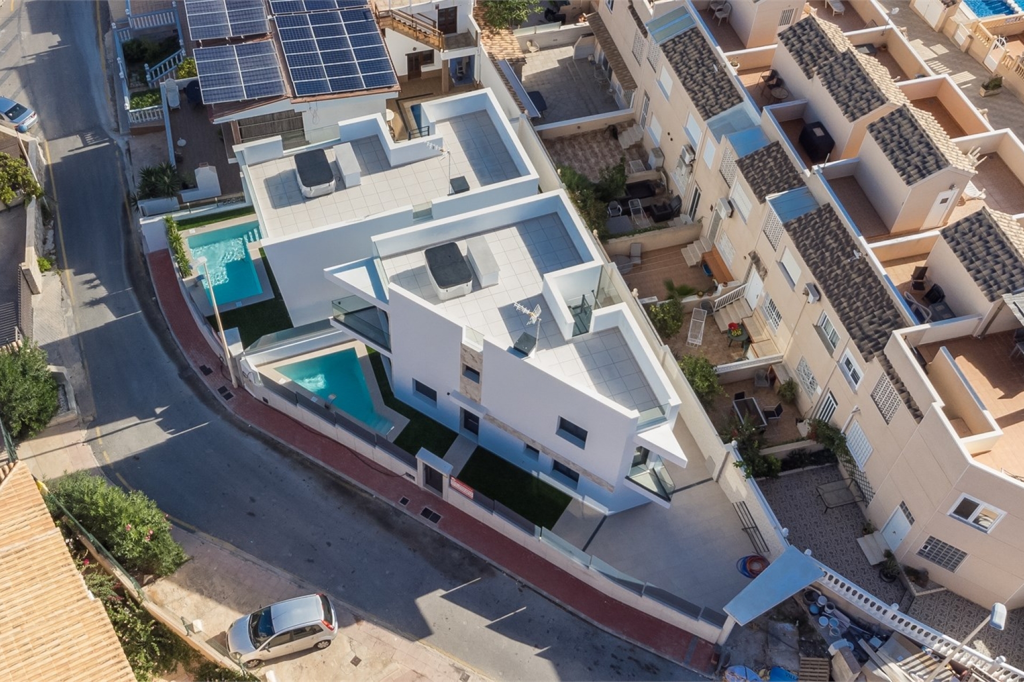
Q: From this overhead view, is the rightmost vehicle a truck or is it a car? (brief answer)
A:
car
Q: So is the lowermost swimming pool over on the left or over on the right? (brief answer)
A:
left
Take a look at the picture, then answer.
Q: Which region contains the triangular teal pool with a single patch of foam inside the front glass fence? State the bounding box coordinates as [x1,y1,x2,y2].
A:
[273,347,394,434]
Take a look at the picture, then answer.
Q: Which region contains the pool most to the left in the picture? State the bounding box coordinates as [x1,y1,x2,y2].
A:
[186,226,262,305]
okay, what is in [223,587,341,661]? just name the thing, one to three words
car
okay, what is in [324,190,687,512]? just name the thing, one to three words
house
